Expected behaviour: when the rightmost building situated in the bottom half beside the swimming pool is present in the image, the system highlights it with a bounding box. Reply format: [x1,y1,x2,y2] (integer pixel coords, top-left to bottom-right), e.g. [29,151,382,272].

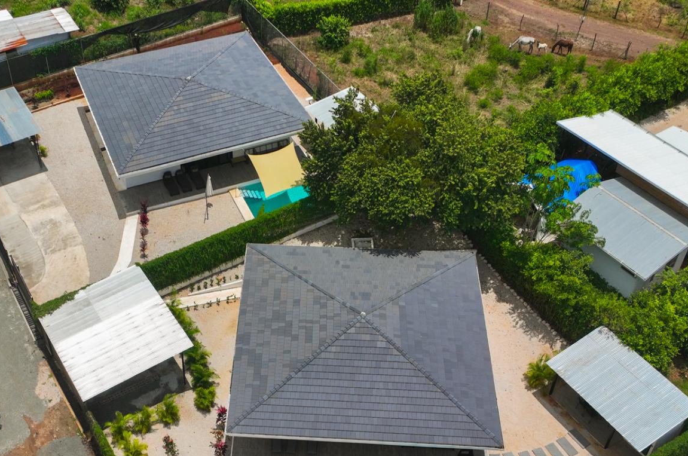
[226,242,504,456]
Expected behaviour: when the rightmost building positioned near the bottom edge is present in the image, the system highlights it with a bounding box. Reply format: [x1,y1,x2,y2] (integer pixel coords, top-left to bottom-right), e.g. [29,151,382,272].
[548,326,688,456]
